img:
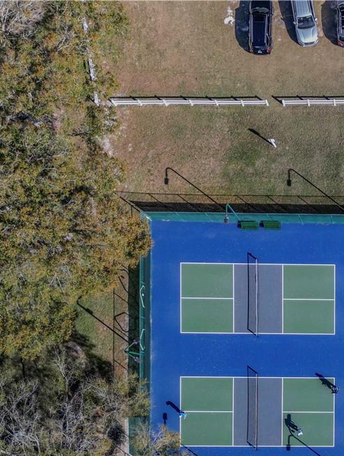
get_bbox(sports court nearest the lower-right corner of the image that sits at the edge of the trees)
[180,376,335,447]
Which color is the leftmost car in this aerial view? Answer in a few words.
black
